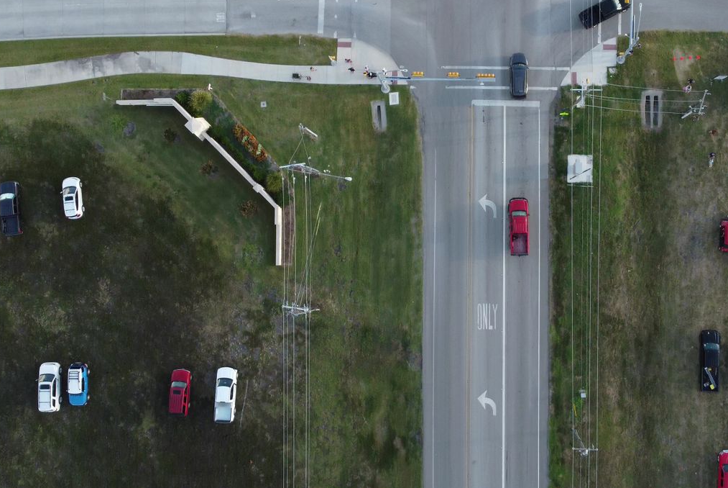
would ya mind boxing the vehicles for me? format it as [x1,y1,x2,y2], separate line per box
[36,362,63,413]
[60,178,87,219]
[508,198,530,257]
[717,219,728,254]
[213,367,238,425]
[698,329,724,392]
[508,53,530,98]
[0,181,26,237]
[65,361,91,407]
[167,368,193,417]
[717,449,728,488]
